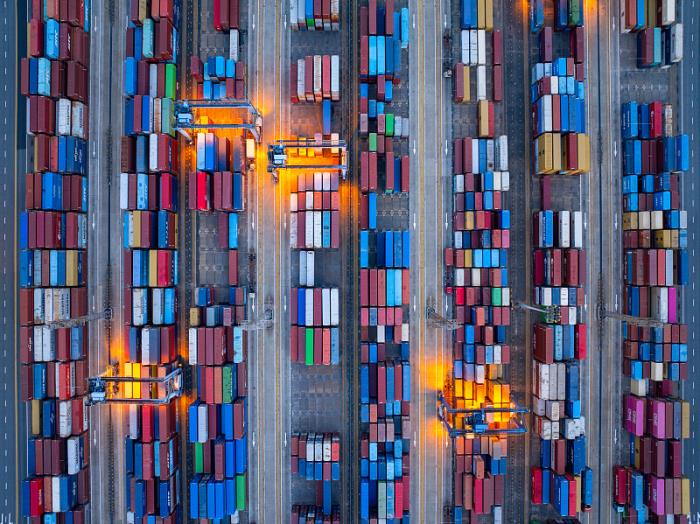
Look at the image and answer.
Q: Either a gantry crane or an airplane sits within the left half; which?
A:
gantry crane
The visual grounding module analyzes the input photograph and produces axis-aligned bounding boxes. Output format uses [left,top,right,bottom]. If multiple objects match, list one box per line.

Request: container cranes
[265,140,349,187]
[168,100,265,150]
[80,357,187,404]
[436,385,533,435]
